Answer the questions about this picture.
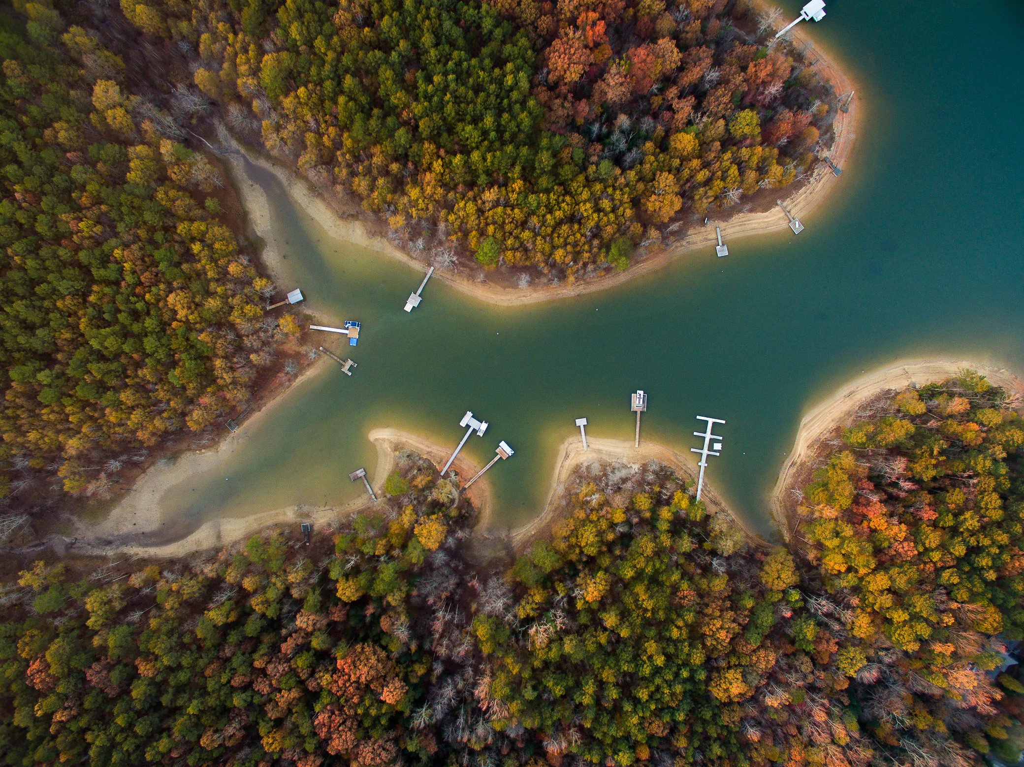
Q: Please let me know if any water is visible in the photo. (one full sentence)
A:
Yes, the picture does contain water.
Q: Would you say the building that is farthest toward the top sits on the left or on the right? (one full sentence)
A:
You can find the building that is farthest toward the top on the right side of the picture.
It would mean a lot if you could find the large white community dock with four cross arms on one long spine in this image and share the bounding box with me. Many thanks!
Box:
[690,416,725,504]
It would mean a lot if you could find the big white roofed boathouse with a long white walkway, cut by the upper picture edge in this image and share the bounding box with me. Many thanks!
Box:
[775,0,827,38]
